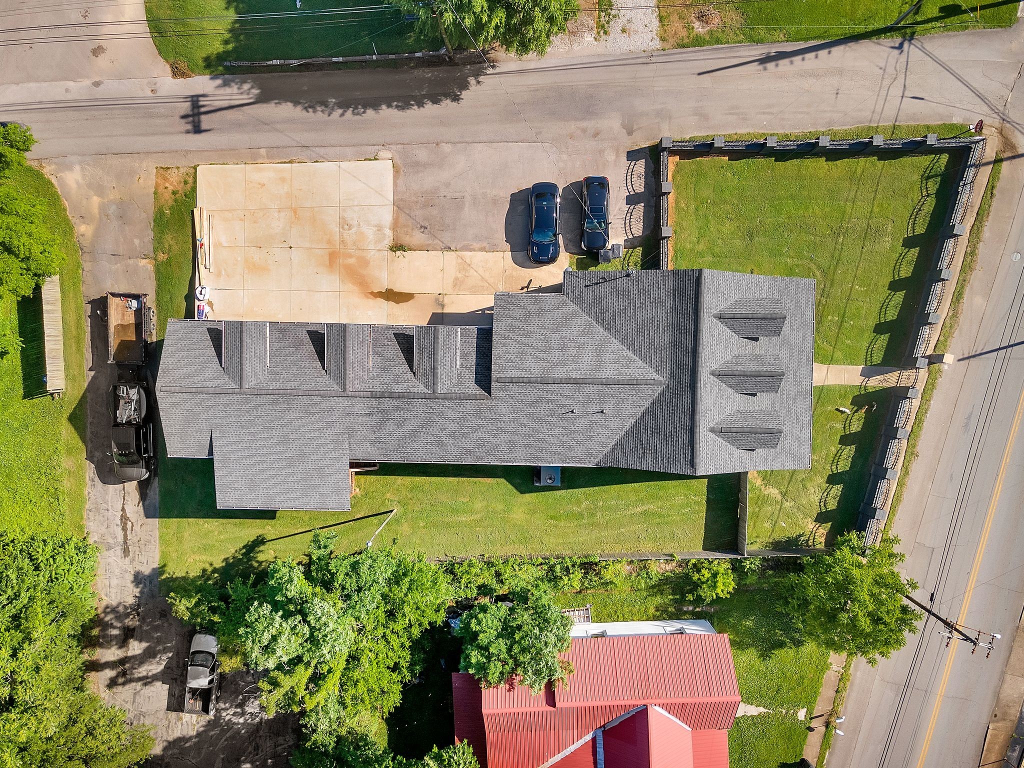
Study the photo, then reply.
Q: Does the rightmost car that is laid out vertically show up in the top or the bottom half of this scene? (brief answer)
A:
top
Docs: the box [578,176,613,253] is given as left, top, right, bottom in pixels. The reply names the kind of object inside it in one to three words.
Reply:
car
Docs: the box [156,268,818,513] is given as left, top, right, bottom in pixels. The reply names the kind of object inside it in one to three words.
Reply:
house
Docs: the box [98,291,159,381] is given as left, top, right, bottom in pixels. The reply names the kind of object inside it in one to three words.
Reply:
trailer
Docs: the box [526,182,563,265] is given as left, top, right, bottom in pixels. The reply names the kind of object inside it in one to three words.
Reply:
car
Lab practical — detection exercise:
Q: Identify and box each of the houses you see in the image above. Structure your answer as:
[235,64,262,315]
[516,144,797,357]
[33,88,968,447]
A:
[156,268,818,513]
[451,620,742,768]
